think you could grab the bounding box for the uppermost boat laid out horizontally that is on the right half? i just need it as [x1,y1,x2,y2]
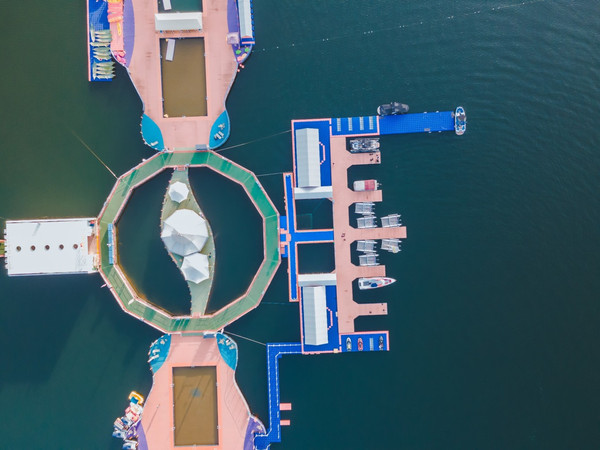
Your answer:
[375,101,409,115]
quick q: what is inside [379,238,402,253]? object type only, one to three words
boat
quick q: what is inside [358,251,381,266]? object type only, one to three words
boat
